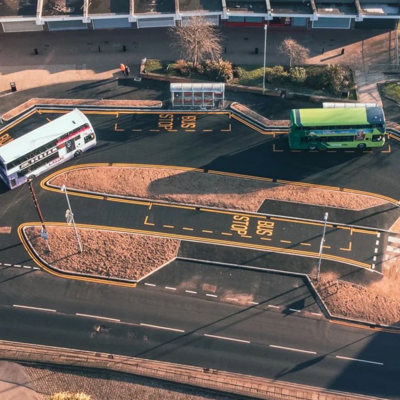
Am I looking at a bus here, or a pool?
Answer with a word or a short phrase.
bus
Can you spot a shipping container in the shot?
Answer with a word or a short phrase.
No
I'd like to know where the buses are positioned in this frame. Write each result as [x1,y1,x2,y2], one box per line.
[0,107,101,190]
[289,107,391,151]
